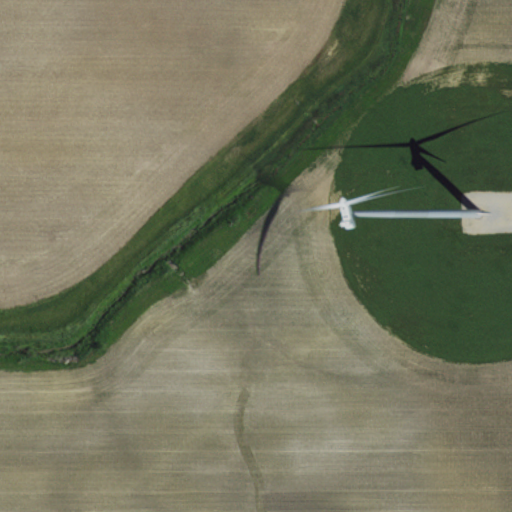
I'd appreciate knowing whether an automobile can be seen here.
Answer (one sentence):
No, the scene contains no automobile.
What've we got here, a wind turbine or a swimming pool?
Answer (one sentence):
The image shows a wind turbine.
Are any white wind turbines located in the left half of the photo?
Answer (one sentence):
No, there's no white wind turbine to be seen in the left half of the photo.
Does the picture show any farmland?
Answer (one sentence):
Yes, some farmland is visible.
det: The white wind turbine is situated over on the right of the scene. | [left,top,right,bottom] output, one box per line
[202,184,488,230]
